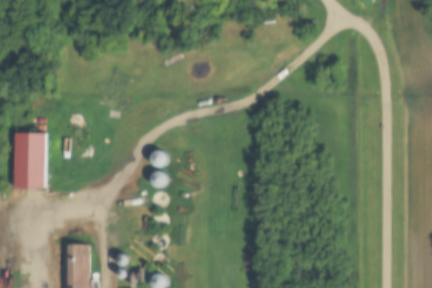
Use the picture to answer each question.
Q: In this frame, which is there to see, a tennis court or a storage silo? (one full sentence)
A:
It is a storage silo that can be seen here.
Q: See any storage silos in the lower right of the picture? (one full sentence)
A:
No, I can find no storage silo in the lower right of the picture.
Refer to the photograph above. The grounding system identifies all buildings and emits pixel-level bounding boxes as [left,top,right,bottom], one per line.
[66,245,91,288]
[14,133,47,188]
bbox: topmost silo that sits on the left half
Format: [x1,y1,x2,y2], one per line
[148,148,170,170]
